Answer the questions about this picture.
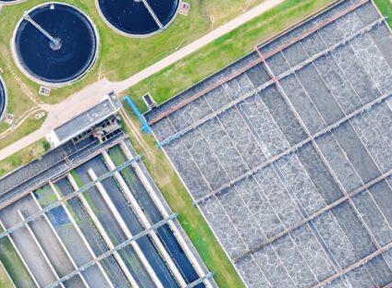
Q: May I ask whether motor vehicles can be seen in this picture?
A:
No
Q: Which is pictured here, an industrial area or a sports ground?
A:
industrial area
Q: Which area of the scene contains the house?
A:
left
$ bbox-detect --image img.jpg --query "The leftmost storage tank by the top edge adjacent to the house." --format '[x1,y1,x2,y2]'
[12,1,99,87]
